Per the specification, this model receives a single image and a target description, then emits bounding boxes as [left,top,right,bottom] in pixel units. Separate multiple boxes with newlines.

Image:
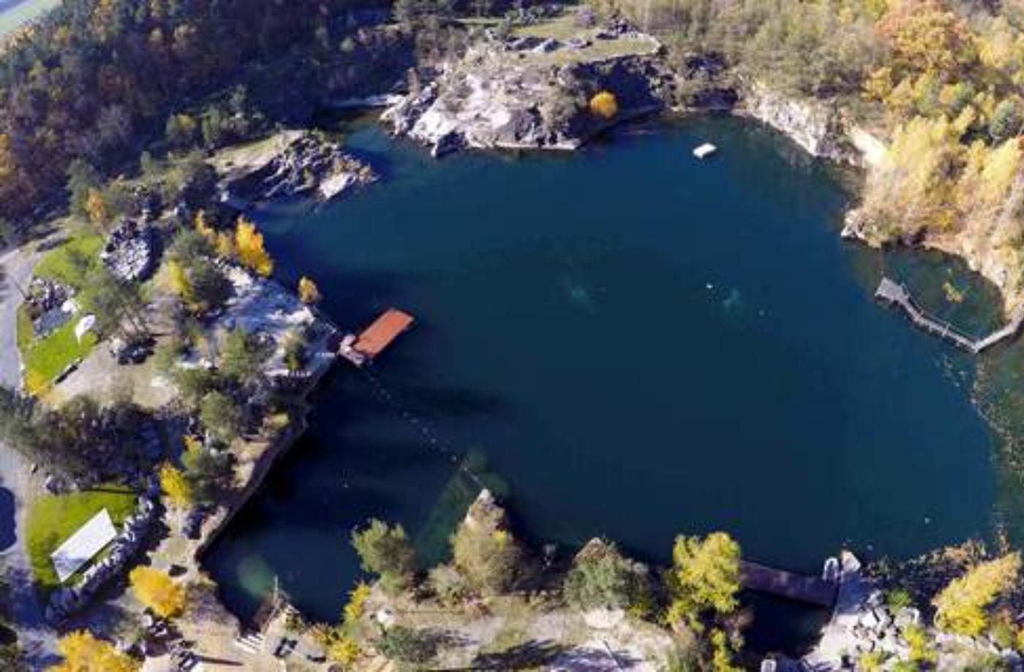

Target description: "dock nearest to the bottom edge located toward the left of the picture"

[340,333,365,369]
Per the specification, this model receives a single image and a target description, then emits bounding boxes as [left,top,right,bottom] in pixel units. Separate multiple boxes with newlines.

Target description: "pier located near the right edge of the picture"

[874,277,1024,359]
